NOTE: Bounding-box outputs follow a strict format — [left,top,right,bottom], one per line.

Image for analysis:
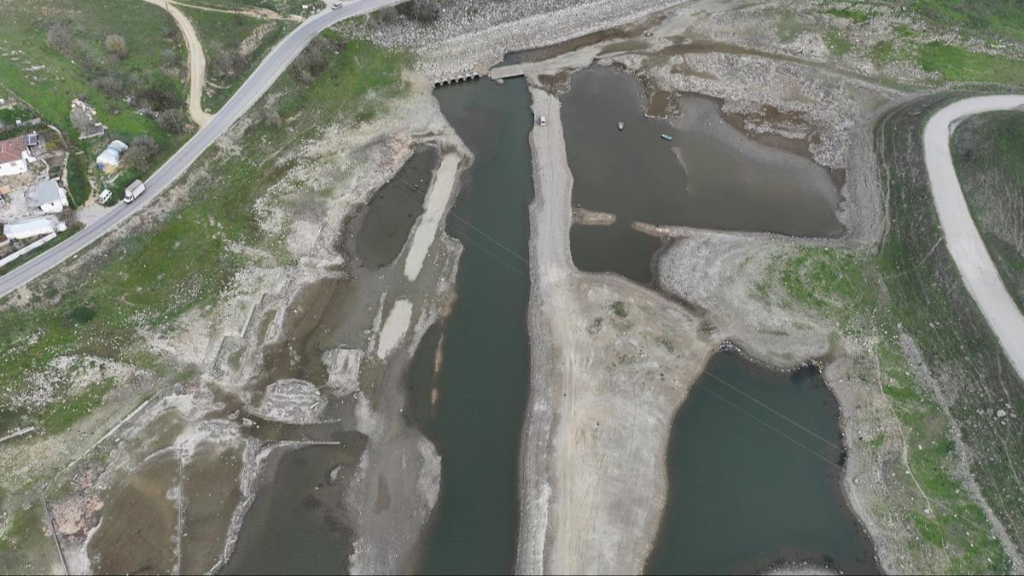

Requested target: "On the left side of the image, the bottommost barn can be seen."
[3,215,56,241]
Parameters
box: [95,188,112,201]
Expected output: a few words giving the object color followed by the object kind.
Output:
white vehicle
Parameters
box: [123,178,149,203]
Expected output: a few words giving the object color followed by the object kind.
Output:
white truck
